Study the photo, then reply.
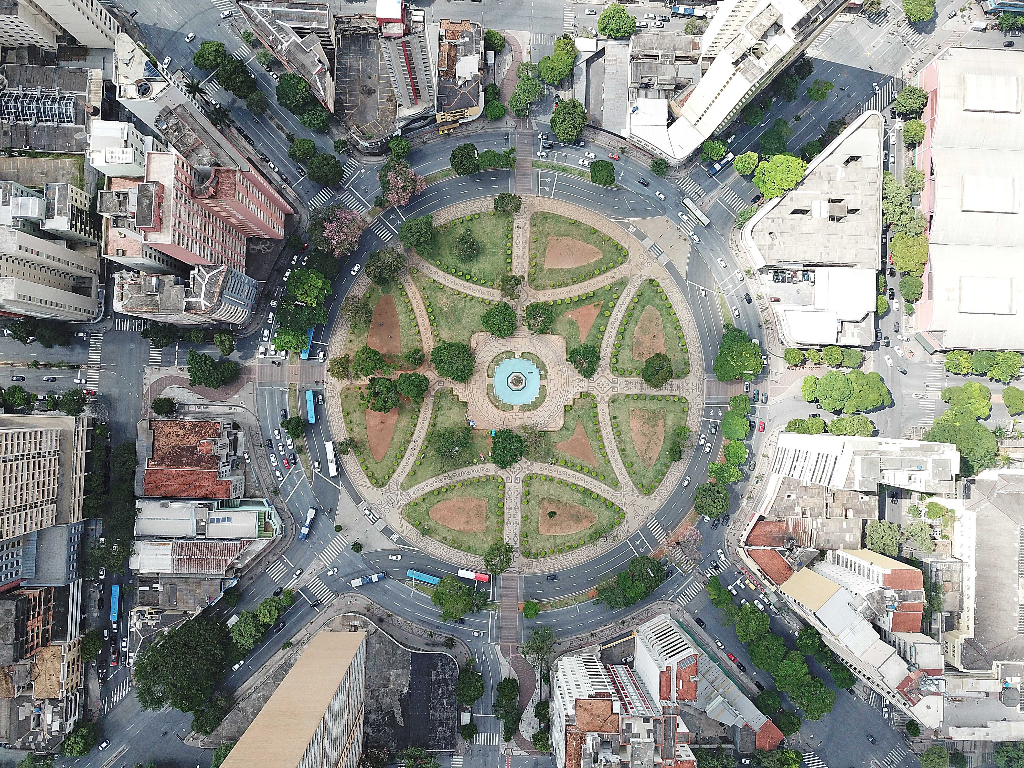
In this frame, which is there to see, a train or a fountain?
fountain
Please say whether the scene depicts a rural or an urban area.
urban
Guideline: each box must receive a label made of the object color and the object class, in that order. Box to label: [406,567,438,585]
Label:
blue vehicle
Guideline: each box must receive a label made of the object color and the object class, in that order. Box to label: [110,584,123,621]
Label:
blue vehicle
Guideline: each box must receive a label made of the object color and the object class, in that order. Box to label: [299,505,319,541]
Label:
white bus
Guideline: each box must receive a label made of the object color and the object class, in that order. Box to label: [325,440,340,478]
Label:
white vehicle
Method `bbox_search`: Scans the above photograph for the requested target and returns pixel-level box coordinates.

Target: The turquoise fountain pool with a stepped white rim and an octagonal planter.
[493,358,540,404]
